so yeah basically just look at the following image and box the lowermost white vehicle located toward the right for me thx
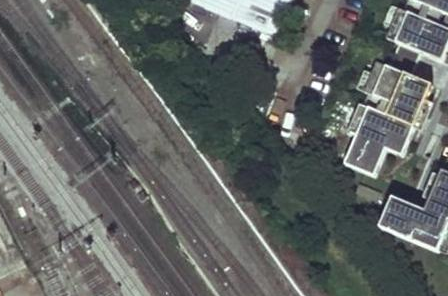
[281,111,296,138]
